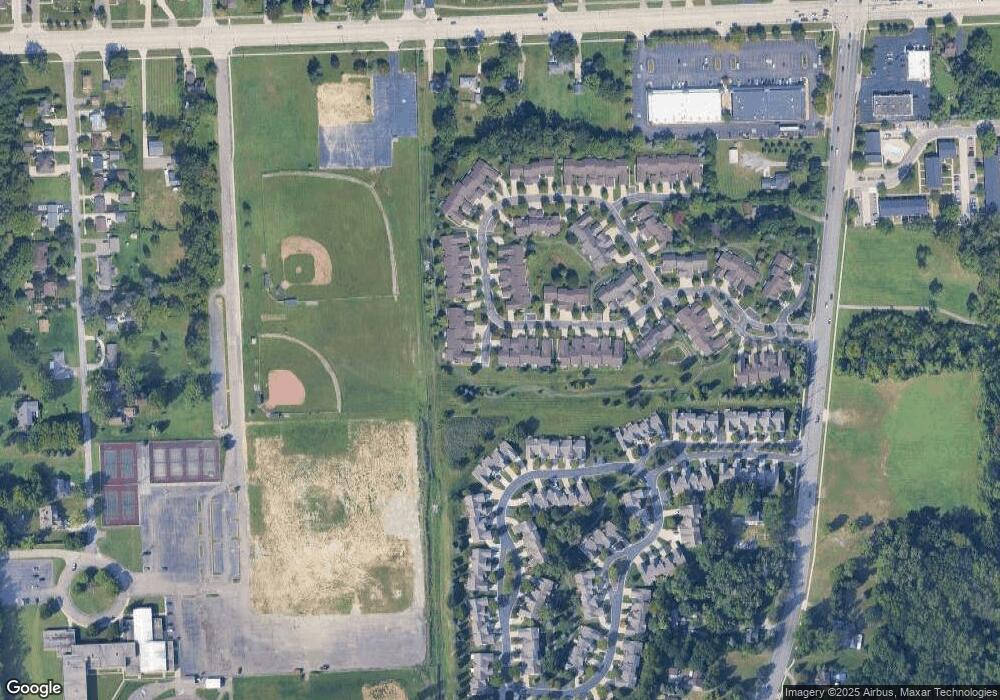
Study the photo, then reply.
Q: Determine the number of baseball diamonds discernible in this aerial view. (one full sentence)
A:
The number of baseball diamonds here is 2.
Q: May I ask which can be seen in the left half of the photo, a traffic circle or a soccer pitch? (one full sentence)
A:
What appears in the left half of the photo is a traffic circle.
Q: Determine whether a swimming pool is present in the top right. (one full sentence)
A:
Yes, in the top right there is a swimming pool.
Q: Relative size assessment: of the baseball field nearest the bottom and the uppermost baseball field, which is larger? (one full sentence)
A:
Compared with the baseball field nearest the bottom, the uppermost baseball field is the larger one.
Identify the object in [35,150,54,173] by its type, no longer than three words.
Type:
house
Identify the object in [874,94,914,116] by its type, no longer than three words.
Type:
building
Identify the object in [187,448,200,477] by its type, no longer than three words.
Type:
tennis court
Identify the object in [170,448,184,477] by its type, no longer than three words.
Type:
tennis court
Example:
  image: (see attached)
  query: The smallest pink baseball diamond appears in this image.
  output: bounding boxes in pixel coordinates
[254,332,342,417]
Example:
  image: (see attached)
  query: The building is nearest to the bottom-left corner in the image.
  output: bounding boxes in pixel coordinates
[43,609,175,700]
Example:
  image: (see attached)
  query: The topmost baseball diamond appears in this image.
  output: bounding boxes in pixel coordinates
[261,174,398,320]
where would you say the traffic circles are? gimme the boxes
[58,557,131,626]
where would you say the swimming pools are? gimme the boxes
[881,136,913,165]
